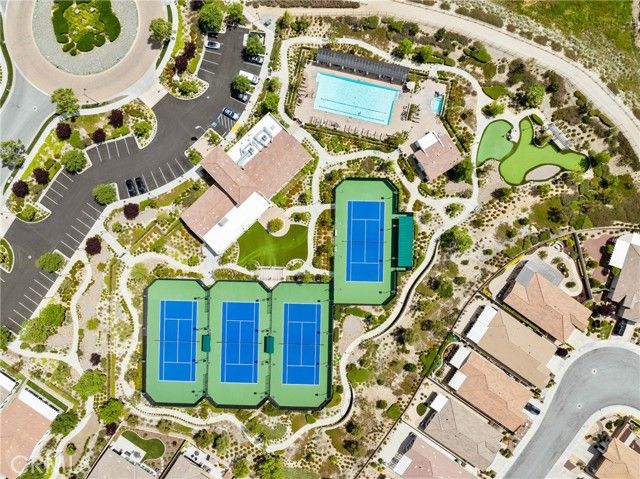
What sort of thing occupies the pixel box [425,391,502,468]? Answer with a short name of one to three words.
house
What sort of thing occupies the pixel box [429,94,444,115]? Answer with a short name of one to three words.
swimming pool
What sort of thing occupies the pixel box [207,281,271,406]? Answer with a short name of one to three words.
tennis court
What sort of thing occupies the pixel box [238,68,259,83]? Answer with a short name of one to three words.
vehicle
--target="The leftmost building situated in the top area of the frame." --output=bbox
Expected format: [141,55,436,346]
[181,111,313,254]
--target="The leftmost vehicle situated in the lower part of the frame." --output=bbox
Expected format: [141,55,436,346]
[526,402,543,415]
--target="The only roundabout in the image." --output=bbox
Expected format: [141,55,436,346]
[2,0,168,103]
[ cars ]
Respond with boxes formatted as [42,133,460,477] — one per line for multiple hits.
[126,179,136,196]
[234,91,251,103]
[204,40,221,50]
[222,106,240,119]
[526,402,543,415]
[135,176,147,194]
[614,320,626,336]
[247,54,264,65]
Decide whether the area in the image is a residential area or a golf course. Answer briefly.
residential area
